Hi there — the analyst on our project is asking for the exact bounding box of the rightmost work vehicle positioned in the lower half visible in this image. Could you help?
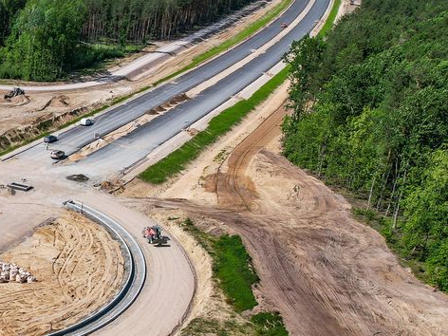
[139,222,166,245]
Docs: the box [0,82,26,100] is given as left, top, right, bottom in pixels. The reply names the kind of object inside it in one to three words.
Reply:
work vehicle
